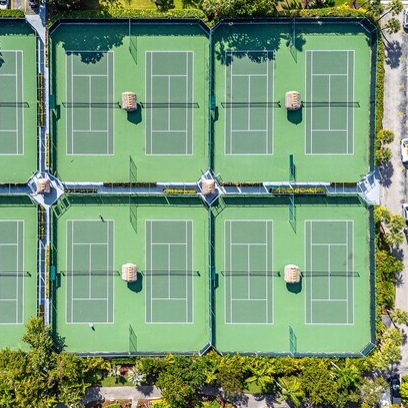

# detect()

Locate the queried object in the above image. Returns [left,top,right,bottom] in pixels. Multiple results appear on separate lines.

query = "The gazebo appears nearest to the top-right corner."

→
[283,91,299,110]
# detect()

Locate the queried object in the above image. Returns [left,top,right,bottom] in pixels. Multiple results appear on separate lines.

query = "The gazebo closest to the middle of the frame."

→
[200,178,214,193]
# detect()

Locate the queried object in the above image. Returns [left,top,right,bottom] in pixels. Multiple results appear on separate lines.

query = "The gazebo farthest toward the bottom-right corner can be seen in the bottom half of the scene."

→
[282,264,299,284]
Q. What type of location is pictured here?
sports ground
